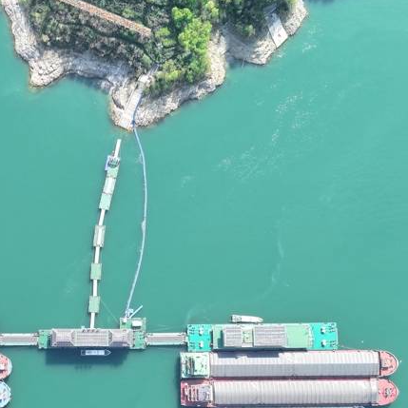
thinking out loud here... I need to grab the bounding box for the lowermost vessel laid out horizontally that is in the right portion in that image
[181,379,399,407]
